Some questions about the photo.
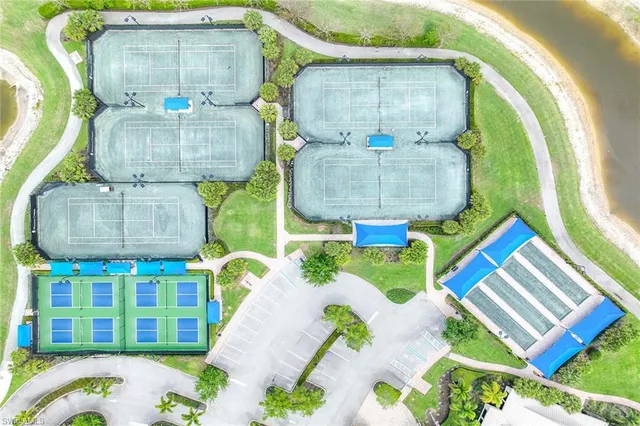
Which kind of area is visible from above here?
sports ground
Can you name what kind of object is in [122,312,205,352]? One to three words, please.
sports court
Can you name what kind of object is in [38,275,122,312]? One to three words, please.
sports court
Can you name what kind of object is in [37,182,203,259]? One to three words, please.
tennis court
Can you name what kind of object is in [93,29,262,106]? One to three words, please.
tennis court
